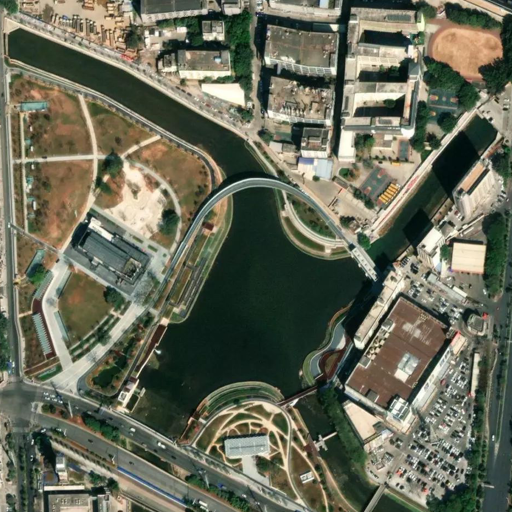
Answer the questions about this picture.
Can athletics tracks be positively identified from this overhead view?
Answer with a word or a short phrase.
Yes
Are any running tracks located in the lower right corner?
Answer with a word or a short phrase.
No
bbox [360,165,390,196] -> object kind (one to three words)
basketball court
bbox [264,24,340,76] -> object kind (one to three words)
building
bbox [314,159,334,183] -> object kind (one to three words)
building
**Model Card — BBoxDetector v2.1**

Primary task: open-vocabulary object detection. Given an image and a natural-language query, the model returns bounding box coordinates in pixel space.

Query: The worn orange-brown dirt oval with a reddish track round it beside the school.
[427,20,510,85]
